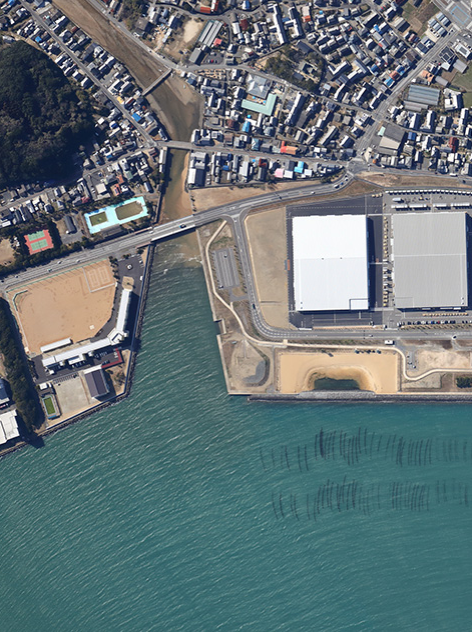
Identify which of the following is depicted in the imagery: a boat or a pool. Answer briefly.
pool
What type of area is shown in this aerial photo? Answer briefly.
residential area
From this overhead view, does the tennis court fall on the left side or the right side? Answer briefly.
left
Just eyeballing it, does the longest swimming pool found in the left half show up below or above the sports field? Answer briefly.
above it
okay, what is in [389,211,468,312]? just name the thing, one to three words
building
